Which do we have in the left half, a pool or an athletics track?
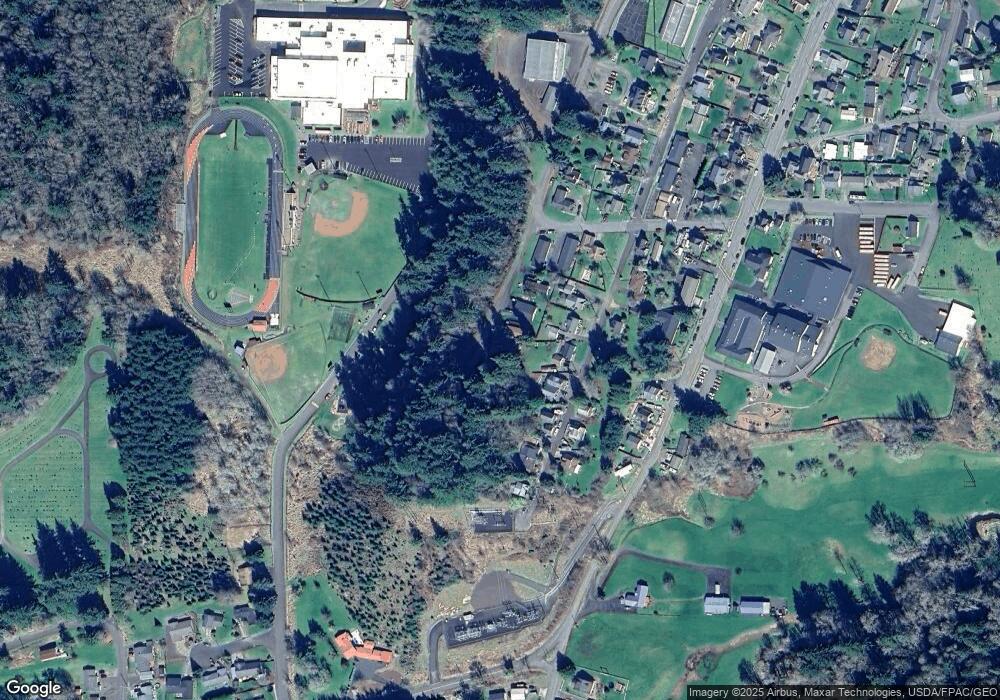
athletics track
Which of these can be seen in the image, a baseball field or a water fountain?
baseball field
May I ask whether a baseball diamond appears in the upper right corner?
No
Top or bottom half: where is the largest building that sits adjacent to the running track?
top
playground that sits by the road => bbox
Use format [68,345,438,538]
[736,385,793,432]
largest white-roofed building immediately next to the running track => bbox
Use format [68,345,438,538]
[257,18,414,126]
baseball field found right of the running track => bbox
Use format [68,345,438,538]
[297,174,406,301]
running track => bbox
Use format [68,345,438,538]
[183,106,282,326]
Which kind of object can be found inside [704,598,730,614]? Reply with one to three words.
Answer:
barn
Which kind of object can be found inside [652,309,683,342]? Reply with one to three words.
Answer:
house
